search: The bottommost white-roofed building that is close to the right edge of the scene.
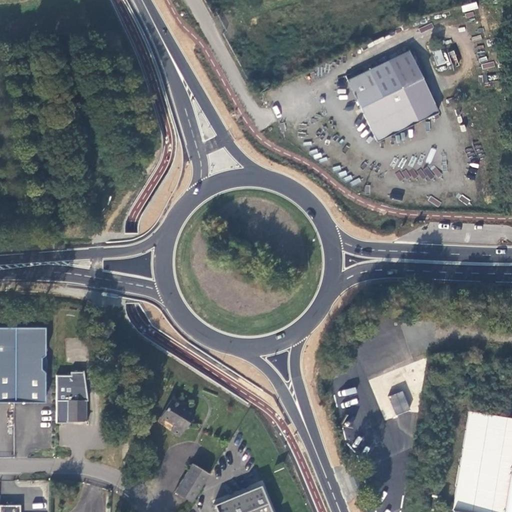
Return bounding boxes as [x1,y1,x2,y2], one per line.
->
[453,410,512,512]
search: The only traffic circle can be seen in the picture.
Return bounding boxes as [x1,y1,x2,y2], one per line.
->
[154,167,344,358]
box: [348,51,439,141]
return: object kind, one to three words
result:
building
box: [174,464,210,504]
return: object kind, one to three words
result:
shed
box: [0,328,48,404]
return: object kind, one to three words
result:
building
